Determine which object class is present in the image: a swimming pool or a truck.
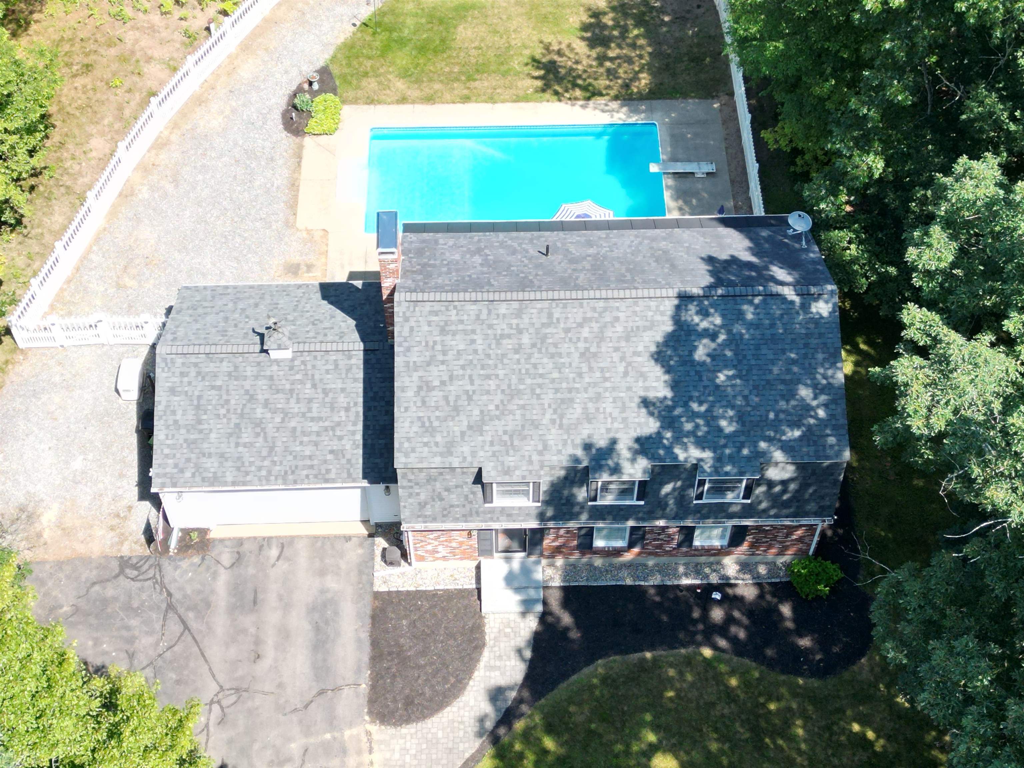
swimming pool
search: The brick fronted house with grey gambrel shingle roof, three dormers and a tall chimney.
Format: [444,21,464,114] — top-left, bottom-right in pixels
[375,211,848,569]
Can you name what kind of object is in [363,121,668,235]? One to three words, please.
swimming pool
